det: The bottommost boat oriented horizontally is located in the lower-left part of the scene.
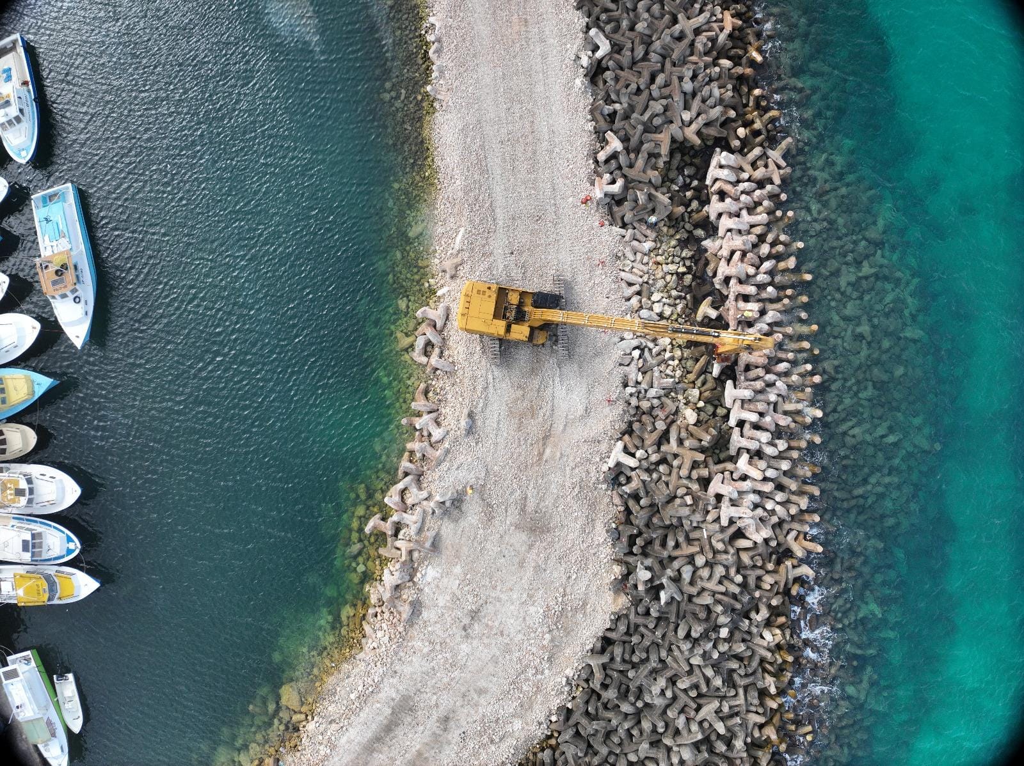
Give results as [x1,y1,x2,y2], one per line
[0,563,100,606]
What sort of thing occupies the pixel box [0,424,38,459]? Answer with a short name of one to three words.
boat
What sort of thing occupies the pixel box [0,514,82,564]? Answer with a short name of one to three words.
boat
